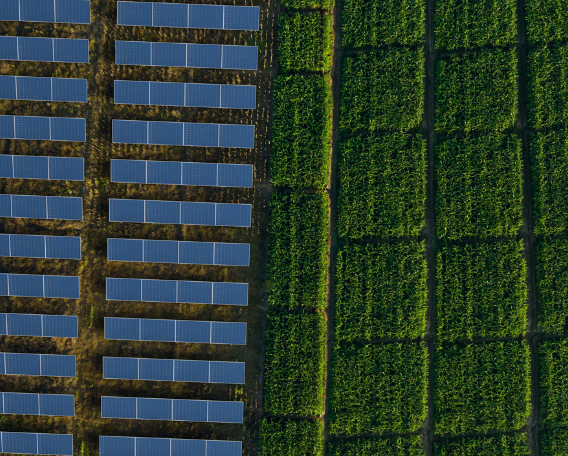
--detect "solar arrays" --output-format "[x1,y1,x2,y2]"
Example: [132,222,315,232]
[0,36,89,64]
[117,1,260,31]
[115,41,258,70]
[100,436,242,456]
[0,155,84,181]
[0,353,76,378]
[0,115,86,142]
[0,0,91,24]
[113,119,255,148]
[0,234,80,260]
[114,80,256,109]
[108,238,250,266]
[104,317,246,345]
[111,159,253,188]
[0,392,75,417]
[0,194,82,221]
[0,273,79,299]
[0,76,88,103]
[0,313,78,339]
[106,277,248,306]
[102,356,245,384]
[101,396,243,424]
[0,432,73,456]
[109,199,251,227]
